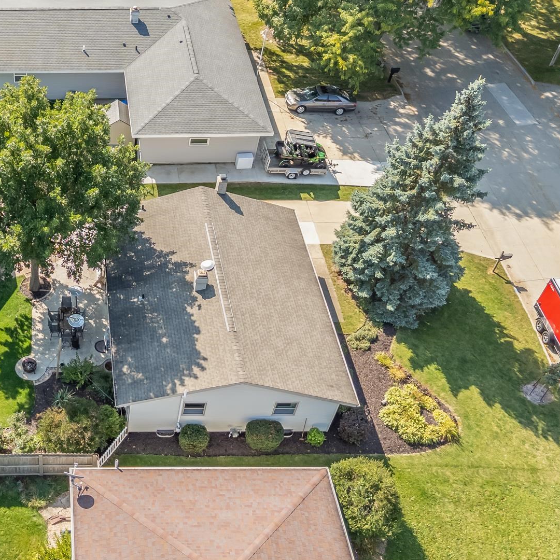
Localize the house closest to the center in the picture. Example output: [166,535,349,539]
[100,174,362,441]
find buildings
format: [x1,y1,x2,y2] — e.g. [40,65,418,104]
[67,464,356,560]
[0,0,276,164]
[100,174,362,441]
